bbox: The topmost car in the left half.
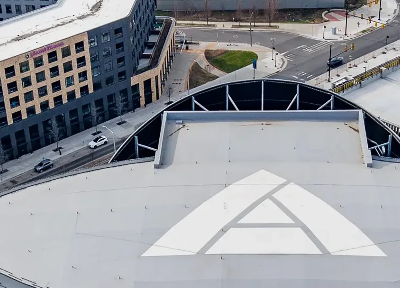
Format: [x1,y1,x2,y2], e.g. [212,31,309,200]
[84,132,110,150]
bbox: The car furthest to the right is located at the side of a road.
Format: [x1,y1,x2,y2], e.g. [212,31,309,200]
[325,54,346,67]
